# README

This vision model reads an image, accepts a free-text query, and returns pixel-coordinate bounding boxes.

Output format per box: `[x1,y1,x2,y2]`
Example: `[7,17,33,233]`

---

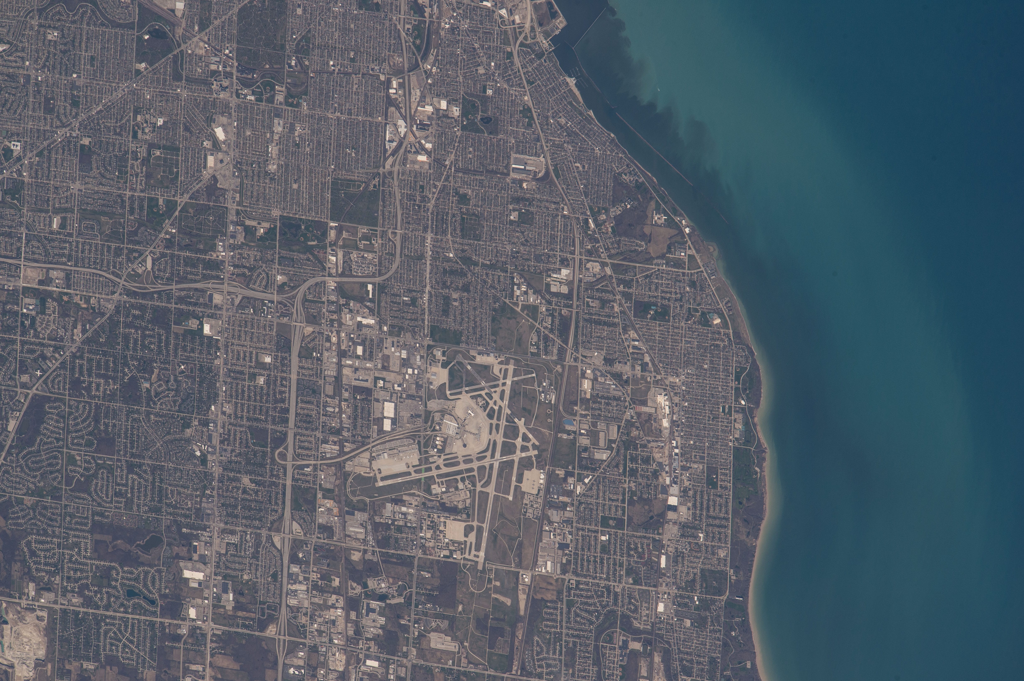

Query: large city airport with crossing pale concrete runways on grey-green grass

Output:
[348,347,564,570]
